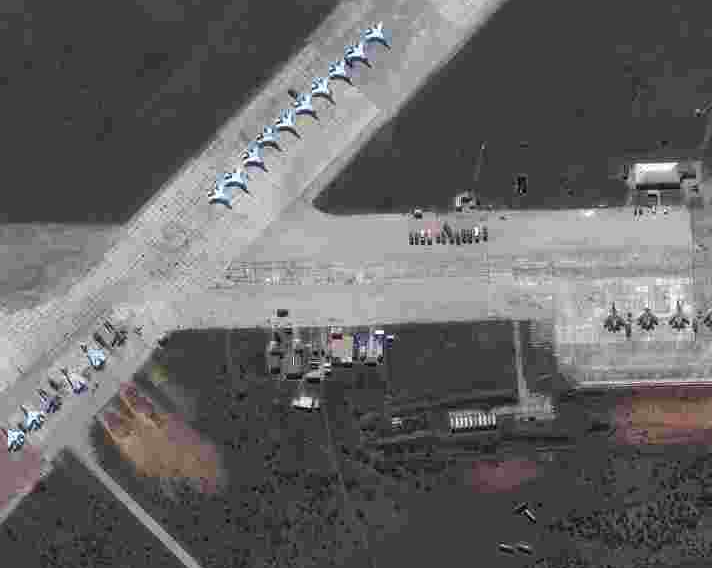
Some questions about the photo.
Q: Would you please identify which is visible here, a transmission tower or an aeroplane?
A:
aeroplane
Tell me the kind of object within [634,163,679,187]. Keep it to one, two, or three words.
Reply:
hangar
